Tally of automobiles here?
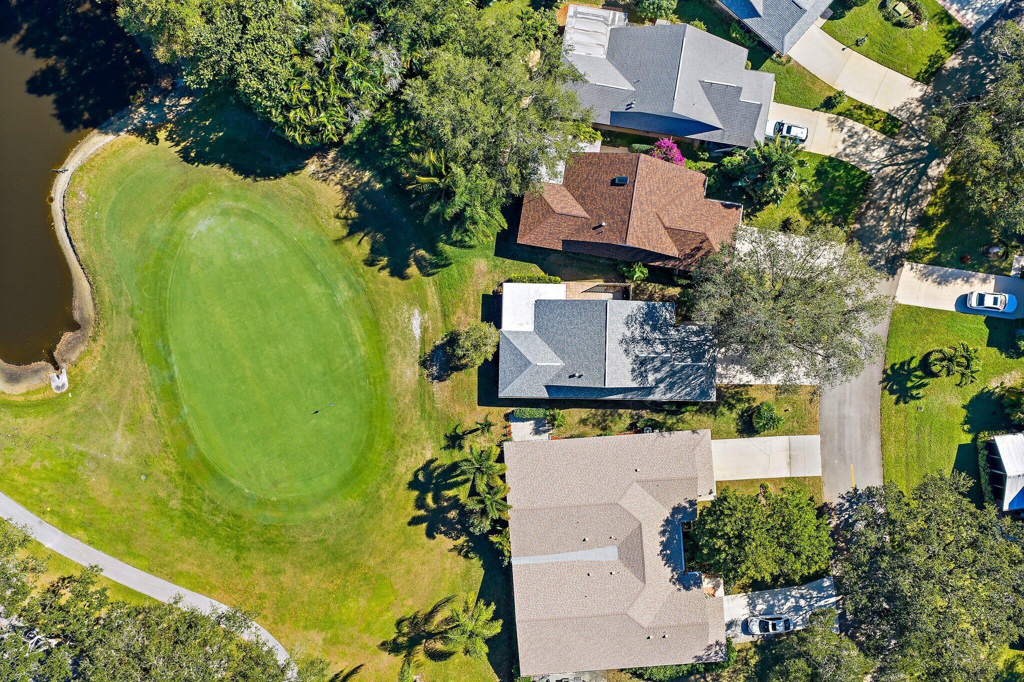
3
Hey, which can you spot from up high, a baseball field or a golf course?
golf course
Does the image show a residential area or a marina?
residential area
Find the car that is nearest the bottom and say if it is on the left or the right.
right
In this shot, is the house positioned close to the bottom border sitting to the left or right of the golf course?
on the right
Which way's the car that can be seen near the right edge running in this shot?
from left to right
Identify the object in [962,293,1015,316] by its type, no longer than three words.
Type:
car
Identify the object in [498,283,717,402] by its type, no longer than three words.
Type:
house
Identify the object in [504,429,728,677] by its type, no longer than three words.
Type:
house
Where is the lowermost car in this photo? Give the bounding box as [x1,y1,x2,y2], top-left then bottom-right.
[744,611,792,635]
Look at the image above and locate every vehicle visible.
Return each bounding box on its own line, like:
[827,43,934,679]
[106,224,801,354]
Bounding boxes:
[766,121,808,148]
[962,293,1015,316]
[744,611,792,635]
